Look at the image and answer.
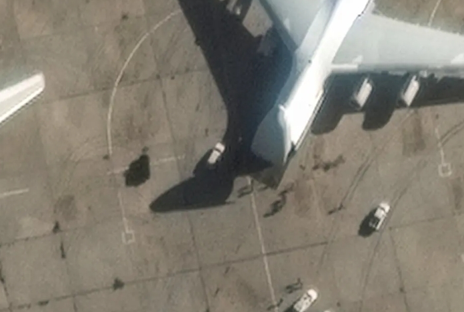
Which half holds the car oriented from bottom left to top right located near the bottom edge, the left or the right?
right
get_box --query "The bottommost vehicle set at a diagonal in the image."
[295,288,320,312]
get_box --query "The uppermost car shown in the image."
[207,138,226,168]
